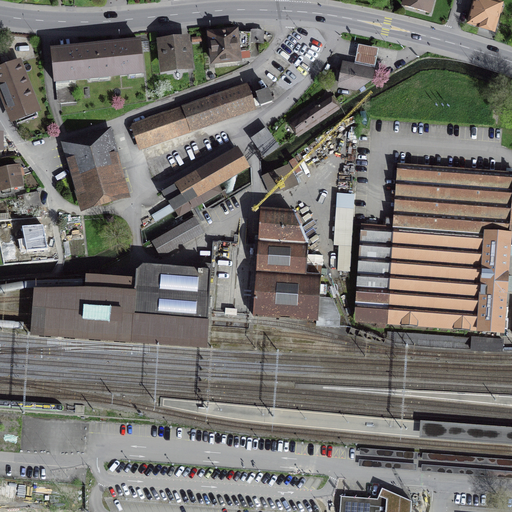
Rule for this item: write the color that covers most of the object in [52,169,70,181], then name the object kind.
white vehicle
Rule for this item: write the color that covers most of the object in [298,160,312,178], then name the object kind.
white vehicle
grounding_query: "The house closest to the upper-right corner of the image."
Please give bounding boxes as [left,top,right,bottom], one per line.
[467,0,504,38]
